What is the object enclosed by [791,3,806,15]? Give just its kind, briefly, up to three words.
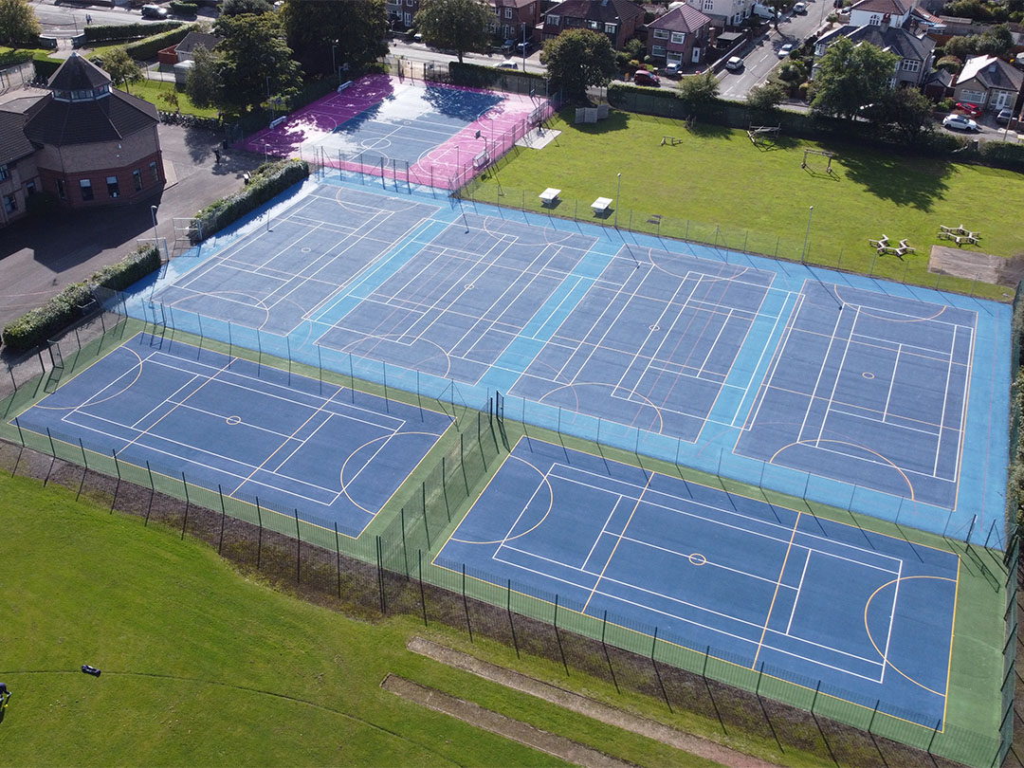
vehicle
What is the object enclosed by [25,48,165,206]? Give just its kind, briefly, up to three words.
building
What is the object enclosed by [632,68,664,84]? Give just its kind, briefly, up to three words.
car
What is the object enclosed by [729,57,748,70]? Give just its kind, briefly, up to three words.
vehicle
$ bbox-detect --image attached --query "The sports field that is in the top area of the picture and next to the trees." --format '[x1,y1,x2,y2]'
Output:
[456,97,1024,301]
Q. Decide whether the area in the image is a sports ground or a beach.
sports ground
